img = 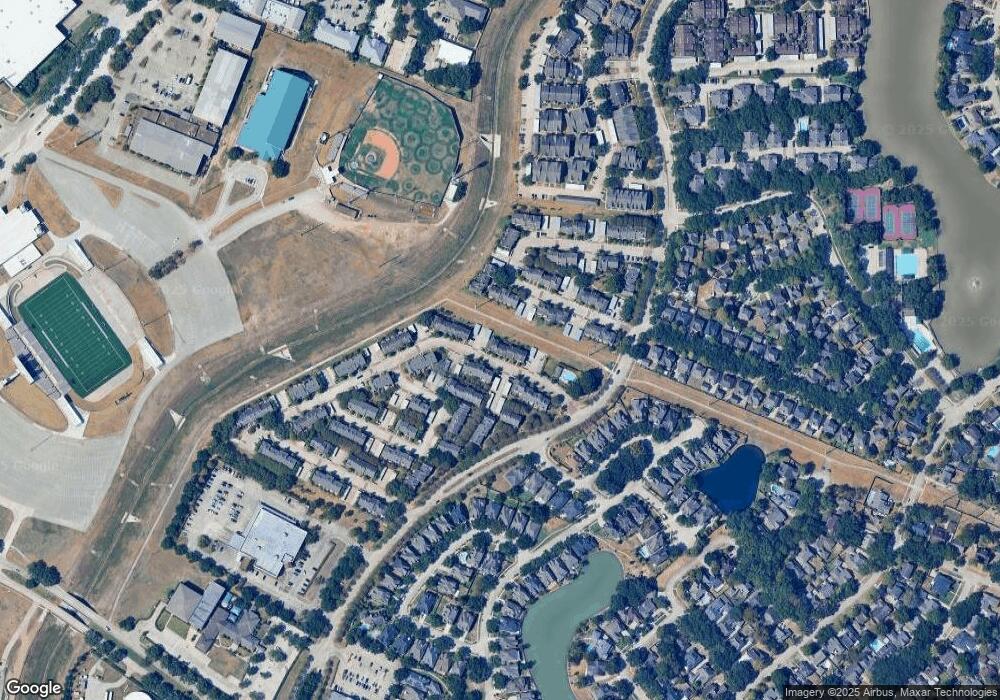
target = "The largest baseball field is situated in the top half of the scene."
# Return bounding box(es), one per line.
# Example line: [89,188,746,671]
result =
[338,76,461,206]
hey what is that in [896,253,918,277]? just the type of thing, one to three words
swimming pool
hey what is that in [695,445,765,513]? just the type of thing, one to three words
pond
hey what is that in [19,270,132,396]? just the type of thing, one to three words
sports field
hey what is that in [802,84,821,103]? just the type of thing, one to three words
house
